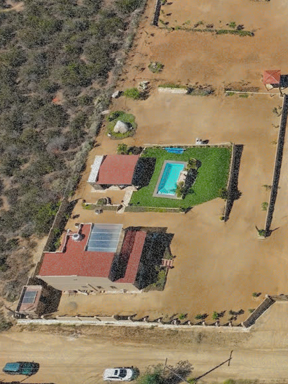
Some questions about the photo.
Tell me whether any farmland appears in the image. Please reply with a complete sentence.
No, no farmland is visible.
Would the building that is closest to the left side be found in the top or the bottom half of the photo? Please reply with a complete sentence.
Seen from above, the building that is closest to the left side lies in the bottom half of the view.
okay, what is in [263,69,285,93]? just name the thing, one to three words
gazebo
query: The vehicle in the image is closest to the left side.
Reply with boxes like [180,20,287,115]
[0,358,36,375]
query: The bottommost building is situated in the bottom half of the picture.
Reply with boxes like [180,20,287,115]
[13,285,54,320]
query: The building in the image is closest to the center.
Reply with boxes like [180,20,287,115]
[88,154,146,191]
